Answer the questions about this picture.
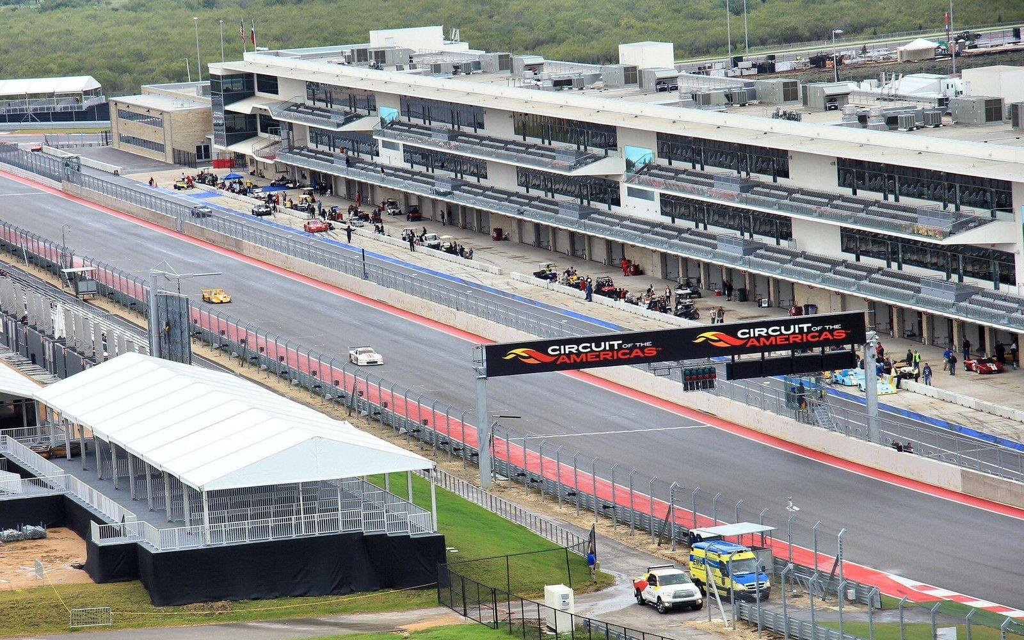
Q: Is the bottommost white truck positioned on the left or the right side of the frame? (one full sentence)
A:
The bottommost white truck appears in the right half of the scene.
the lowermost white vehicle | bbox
[622,556,714,613]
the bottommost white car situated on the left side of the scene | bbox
[348,342,385,365]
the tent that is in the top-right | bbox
[889,37,937,62]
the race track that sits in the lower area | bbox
[0,175,1024,614]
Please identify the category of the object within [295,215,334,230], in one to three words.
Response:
car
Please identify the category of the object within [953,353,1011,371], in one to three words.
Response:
car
